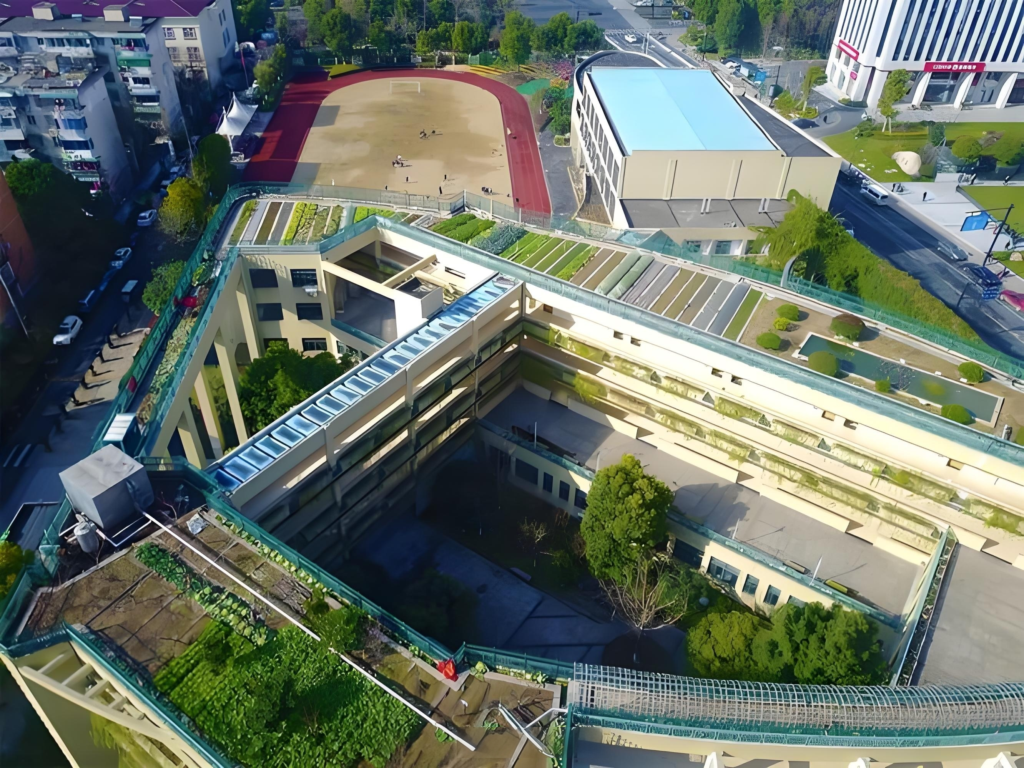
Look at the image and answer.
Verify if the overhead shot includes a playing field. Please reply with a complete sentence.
Yes, there's a playing field down there.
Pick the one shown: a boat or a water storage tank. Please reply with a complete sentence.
Of the two, only a water storage tank appears.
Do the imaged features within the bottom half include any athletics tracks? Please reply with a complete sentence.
No, looking within the bottom half, there is no athletics track.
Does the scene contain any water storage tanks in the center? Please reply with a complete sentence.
No, I can find no water storage tank in the center.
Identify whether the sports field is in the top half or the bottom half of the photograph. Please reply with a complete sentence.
The sports field sits in the top half of the picture.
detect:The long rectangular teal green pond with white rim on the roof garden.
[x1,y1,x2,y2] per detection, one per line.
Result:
[796,335,1007,431]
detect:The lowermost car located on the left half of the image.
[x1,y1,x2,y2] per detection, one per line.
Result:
[52,316,82,342]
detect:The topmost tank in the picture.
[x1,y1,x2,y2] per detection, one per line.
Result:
[58,453,156,528]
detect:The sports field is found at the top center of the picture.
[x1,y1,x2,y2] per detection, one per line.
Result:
[290,77,516,224]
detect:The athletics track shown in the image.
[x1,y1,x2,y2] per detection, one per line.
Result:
[237,68,554,232]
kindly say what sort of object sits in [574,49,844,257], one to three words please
building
